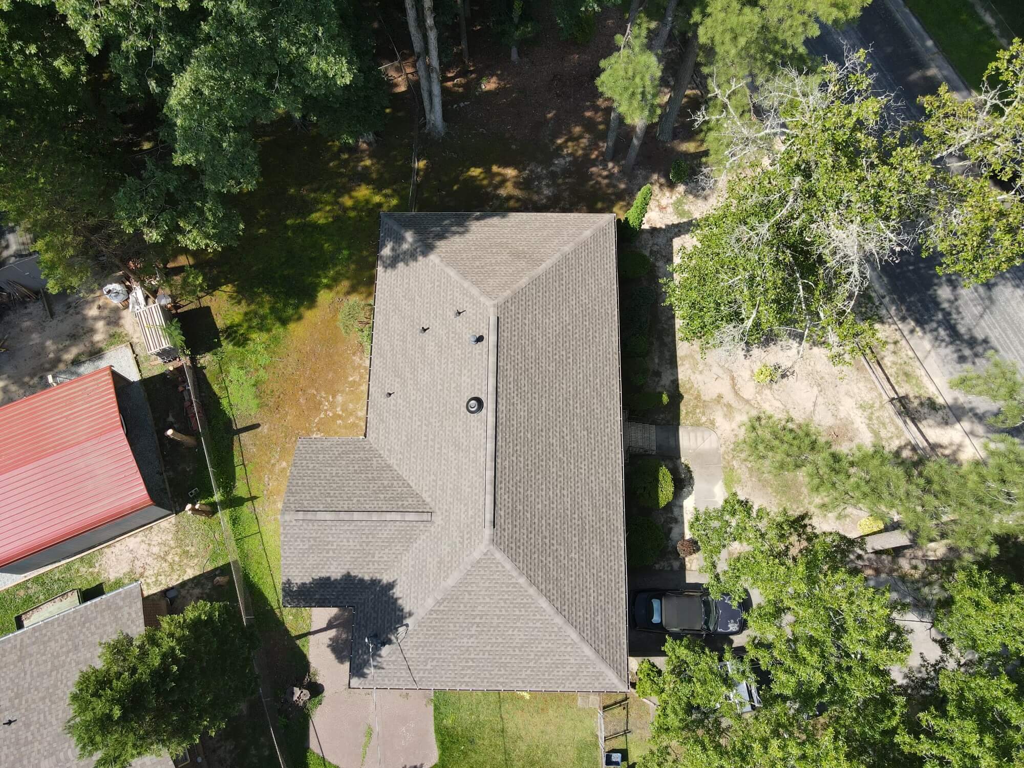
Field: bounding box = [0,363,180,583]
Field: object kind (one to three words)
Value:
shed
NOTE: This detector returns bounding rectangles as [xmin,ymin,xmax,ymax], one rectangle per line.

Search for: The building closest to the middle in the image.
[282,210,632,695]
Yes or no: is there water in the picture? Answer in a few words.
No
